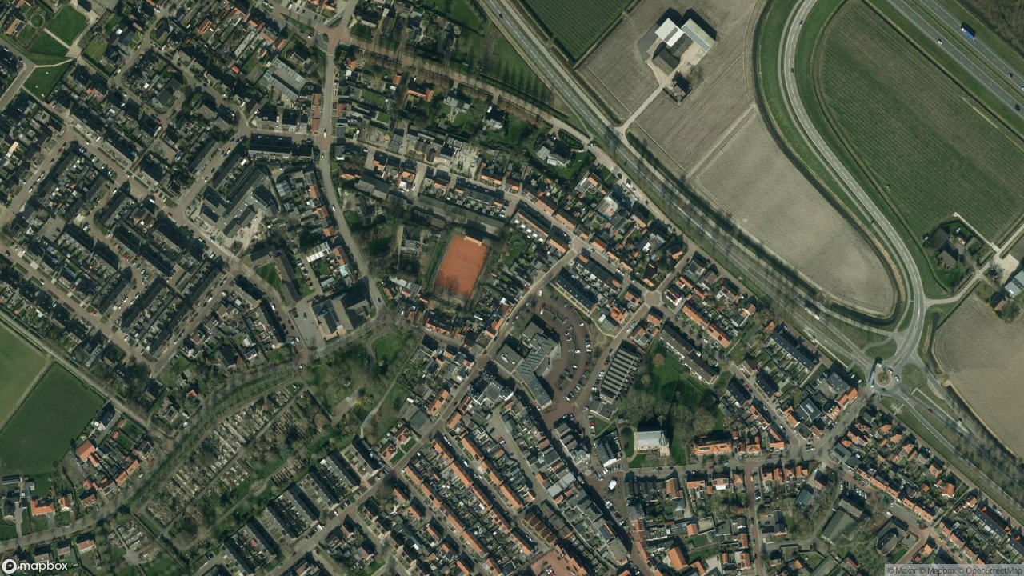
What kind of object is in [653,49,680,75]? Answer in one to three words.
barn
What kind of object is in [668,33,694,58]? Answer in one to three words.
barn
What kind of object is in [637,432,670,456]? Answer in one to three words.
building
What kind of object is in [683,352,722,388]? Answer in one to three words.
building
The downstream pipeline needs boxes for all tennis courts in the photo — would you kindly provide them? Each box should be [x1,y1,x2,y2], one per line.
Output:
[436,233,489,297]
